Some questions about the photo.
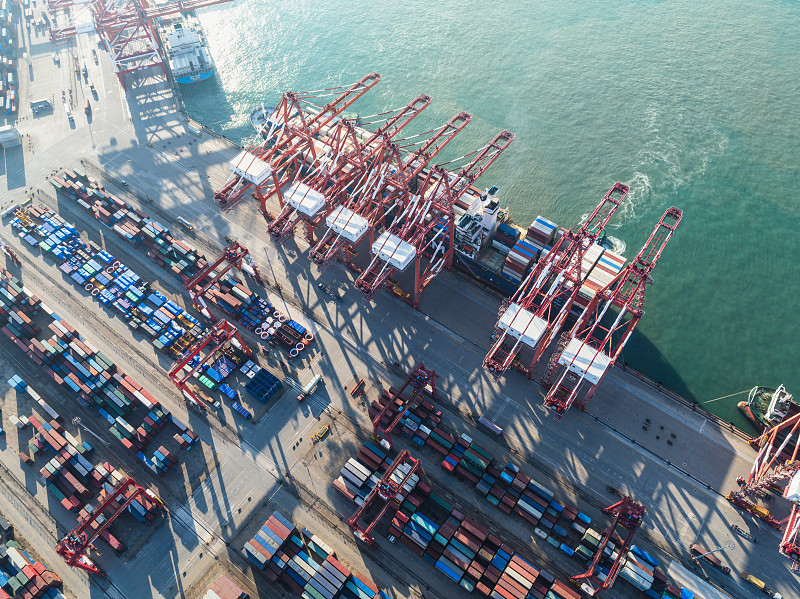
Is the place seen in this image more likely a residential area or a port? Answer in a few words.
port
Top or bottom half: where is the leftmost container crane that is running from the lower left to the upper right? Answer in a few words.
bottom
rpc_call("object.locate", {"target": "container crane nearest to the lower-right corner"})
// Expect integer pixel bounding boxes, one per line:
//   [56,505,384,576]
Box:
[717,412,800,569]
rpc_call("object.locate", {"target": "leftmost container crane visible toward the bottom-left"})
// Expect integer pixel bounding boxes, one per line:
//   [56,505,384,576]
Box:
[56,477,170,579]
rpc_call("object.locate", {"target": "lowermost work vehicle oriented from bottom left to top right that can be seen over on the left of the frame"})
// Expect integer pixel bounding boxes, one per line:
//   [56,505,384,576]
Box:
[312,425,328,444]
